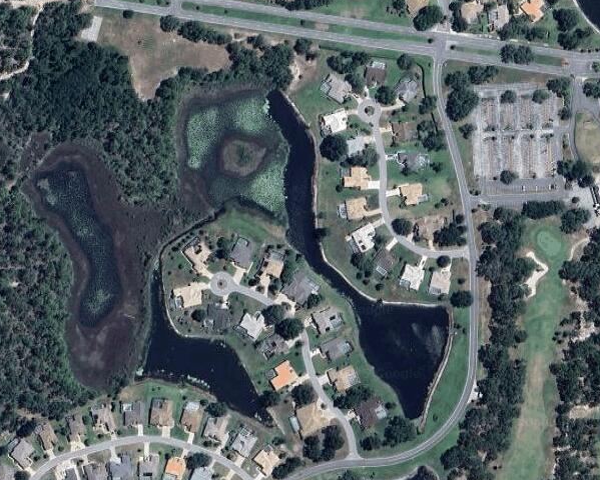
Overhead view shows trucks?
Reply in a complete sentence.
No, the picture doesn't show any truck.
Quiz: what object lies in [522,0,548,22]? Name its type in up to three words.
house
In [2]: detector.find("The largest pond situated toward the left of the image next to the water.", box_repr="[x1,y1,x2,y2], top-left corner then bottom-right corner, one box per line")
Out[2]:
[141,250,277,426]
